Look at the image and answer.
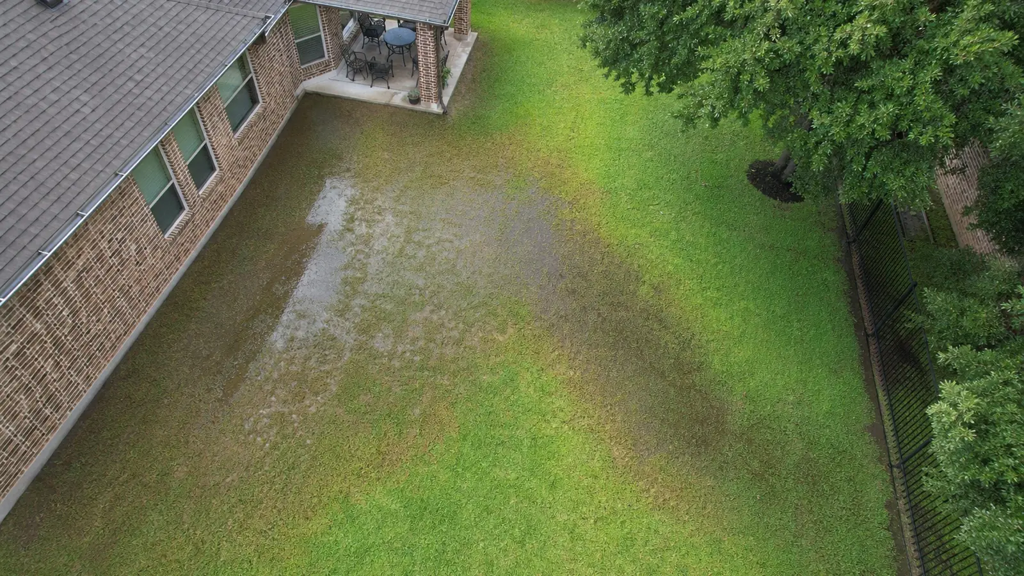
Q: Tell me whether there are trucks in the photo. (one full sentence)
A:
No, the photo shows no truck.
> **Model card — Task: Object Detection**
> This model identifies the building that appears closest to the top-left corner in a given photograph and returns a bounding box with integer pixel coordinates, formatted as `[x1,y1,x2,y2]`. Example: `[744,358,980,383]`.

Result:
[0,0,466,515]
